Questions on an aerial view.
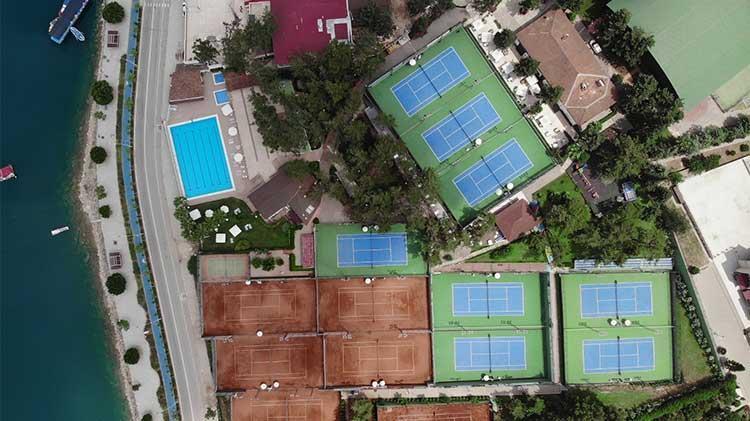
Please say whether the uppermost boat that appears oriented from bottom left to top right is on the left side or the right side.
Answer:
left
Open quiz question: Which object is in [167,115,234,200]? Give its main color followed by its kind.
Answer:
blue swimming pool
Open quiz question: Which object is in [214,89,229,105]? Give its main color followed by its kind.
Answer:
blue swimming pool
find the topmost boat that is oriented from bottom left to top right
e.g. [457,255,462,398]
[48,0,97,49]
